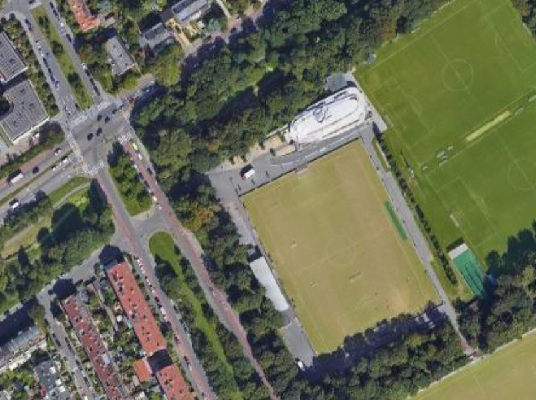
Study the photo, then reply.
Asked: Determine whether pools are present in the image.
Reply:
No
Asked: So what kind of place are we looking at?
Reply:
sports ground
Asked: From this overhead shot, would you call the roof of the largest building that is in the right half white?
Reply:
Yes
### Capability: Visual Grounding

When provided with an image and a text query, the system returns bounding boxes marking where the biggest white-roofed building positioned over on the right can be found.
[291,87,366,142]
